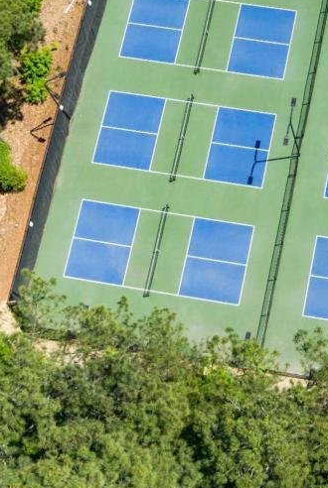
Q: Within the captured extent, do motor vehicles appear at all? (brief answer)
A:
No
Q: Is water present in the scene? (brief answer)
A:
No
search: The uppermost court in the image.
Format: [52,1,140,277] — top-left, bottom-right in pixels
[119,0,298,79]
